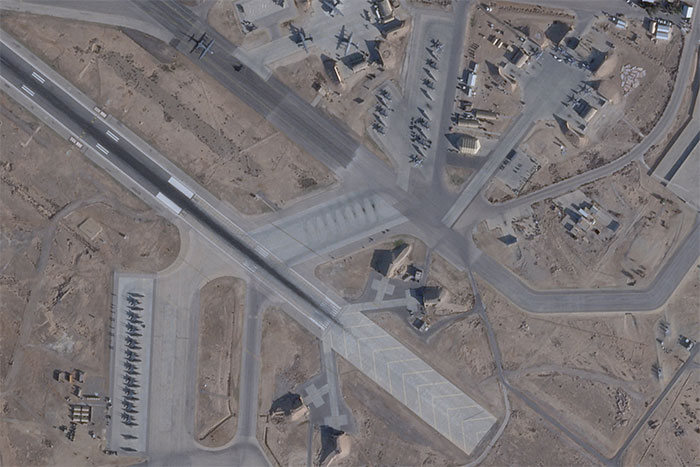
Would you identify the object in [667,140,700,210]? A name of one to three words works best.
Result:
shed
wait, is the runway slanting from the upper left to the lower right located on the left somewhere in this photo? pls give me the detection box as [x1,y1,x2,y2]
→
[0,29,348,336]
